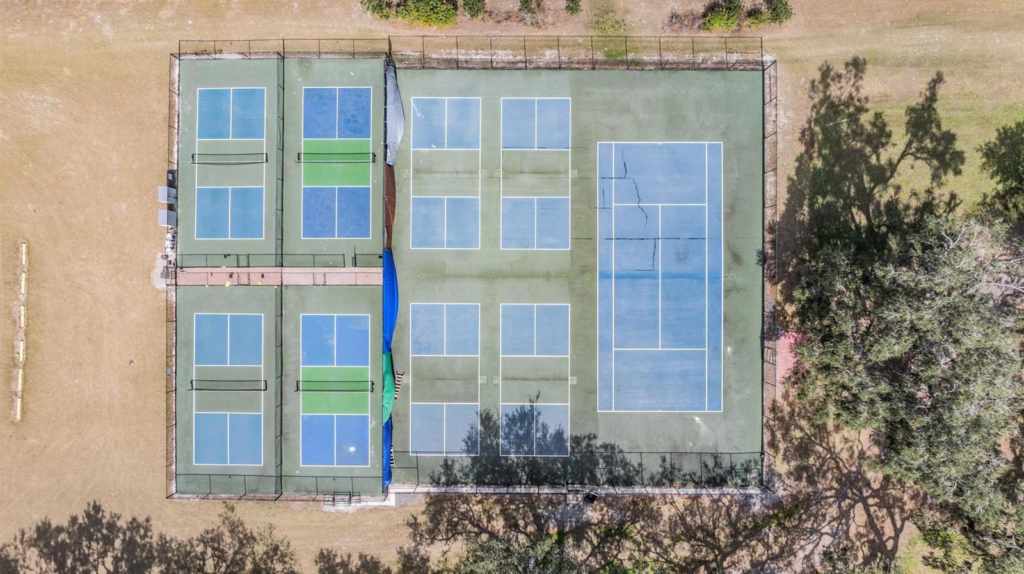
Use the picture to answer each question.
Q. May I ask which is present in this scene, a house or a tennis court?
tennis court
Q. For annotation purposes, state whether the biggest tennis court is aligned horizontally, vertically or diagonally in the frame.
vertically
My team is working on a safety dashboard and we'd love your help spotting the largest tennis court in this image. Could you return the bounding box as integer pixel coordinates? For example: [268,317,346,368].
[597,142,723,412]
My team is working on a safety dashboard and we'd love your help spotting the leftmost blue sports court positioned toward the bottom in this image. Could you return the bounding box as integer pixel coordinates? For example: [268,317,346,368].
[193,313,263,466]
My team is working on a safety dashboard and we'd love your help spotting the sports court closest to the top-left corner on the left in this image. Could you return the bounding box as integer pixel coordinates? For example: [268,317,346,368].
[195,87,265,239]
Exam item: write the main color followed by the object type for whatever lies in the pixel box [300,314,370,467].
blue sports court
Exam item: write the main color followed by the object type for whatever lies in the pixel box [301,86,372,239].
blue sports court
